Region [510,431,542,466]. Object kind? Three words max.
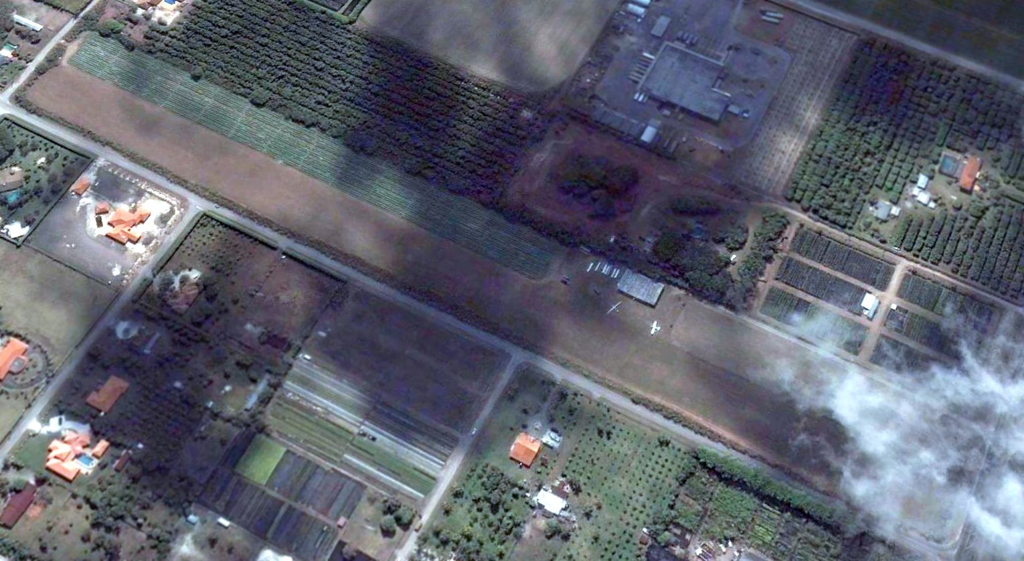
house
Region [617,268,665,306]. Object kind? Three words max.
hangar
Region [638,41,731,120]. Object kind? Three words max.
building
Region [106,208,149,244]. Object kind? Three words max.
house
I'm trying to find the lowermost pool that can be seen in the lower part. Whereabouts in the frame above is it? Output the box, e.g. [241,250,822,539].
[75,450,96,468]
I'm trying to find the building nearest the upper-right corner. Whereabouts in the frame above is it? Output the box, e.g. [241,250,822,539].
[960,155,982,189]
